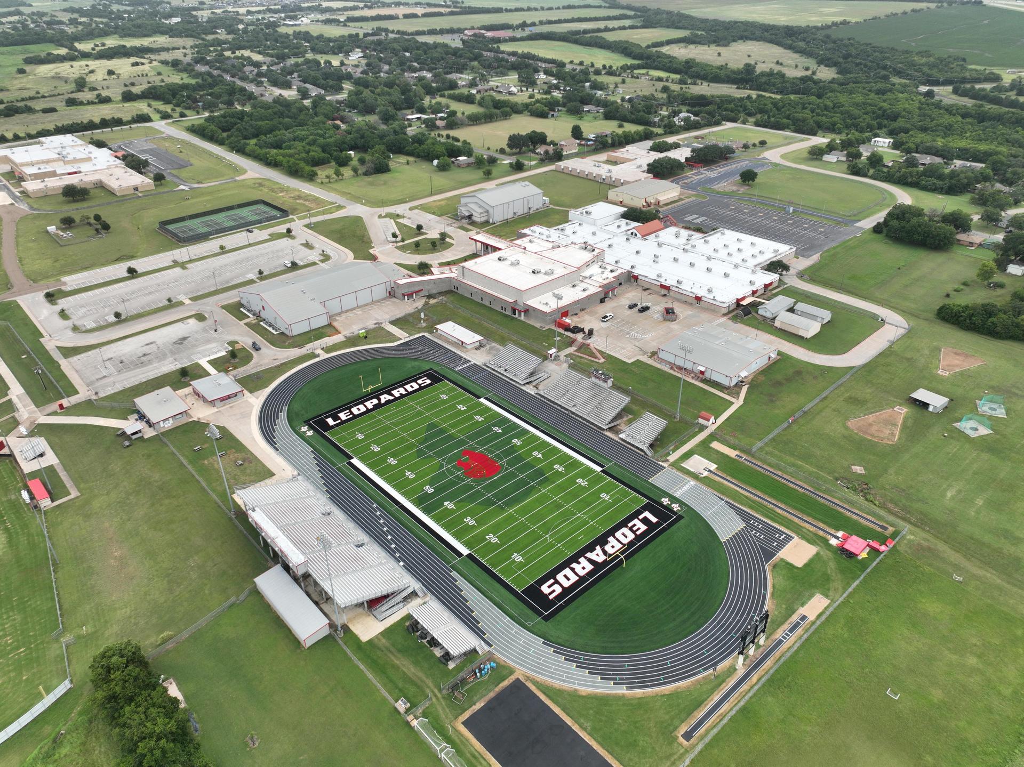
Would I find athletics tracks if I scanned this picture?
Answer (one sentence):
Yes, there is an athletics track in the image.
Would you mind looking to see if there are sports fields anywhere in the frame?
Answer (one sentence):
Yes, I can see a sports field in this picture.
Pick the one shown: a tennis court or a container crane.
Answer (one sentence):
Looking from above, you can make out a tennis court.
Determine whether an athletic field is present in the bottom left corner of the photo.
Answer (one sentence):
Yes, I can see an athletic field in the bottom left corner of the photo.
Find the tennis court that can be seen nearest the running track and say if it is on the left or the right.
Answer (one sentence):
The tennis court that can be seen nearest the running track sits on the left side.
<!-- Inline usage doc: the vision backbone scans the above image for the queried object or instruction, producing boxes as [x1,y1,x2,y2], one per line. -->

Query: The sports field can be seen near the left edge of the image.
[0,458,70,744]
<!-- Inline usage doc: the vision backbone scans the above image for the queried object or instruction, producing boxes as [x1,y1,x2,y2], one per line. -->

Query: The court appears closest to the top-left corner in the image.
[164,204,282,233]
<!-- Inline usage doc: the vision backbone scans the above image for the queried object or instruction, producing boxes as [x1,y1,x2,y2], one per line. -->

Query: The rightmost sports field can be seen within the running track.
[326,380,647,591]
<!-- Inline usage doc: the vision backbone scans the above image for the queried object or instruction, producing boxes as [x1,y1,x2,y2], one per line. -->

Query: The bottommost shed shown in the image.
[253,563,330,648]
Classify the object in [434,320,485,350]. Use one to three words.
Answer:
building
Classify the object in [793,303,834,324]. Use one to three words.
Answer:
building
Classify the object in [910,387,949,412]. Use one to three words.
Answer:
shed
